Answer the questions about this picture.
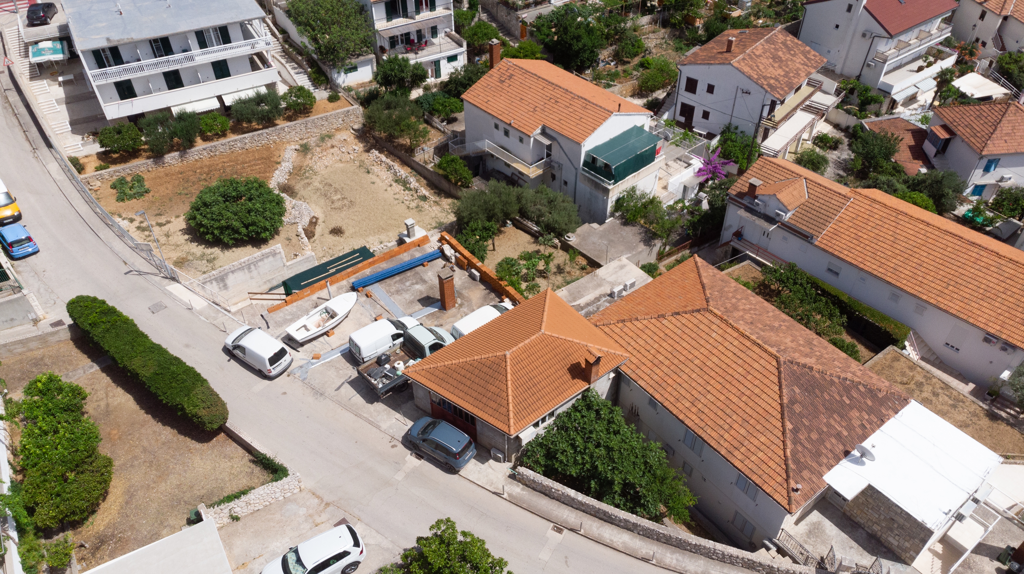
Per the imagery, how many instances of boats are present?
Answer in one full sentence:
Only 1 boat is visible.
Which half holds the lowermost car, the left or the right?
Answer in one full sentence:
The lowermost car sits on the left side.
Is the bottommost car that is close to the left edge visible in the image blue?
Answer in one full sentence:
Yes, the bottommost car that is close to the left edge appears blue.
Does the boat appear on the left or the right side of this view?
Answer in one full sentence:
You can find the boat on the left side of the picture.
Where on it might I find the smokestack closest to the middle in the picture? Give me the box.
[436,272,455,314]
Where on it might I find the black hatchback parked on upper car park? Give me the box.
[24,0,60,24]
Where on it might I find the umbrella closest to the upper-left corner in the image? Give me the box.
[30,41,69,61]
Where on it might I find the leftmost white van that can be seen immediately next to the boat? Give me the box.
[219,322,295,379]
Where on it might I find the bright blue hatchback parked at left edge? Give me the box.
[0,217,39,257]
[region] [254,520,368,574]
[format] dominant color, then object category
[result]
white car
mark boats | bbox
[285,293,359,346]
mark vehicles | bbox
[357,326,454,396]
[0,165,22,217]
[254,520,368,574]
[454,304,513,340]
[24,0,60,24]
[348,312,428,363]
[219,322,295,379]
[0,217,39,257]
[405,414,482,476]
